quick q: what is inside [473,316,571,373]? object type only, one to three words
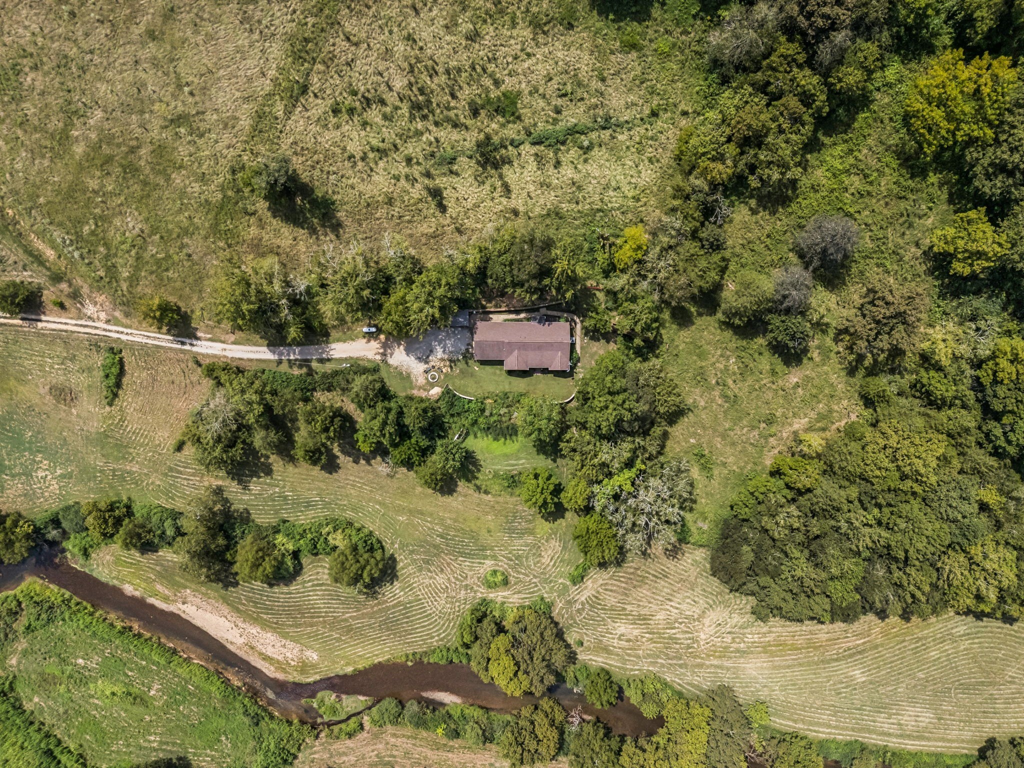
house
